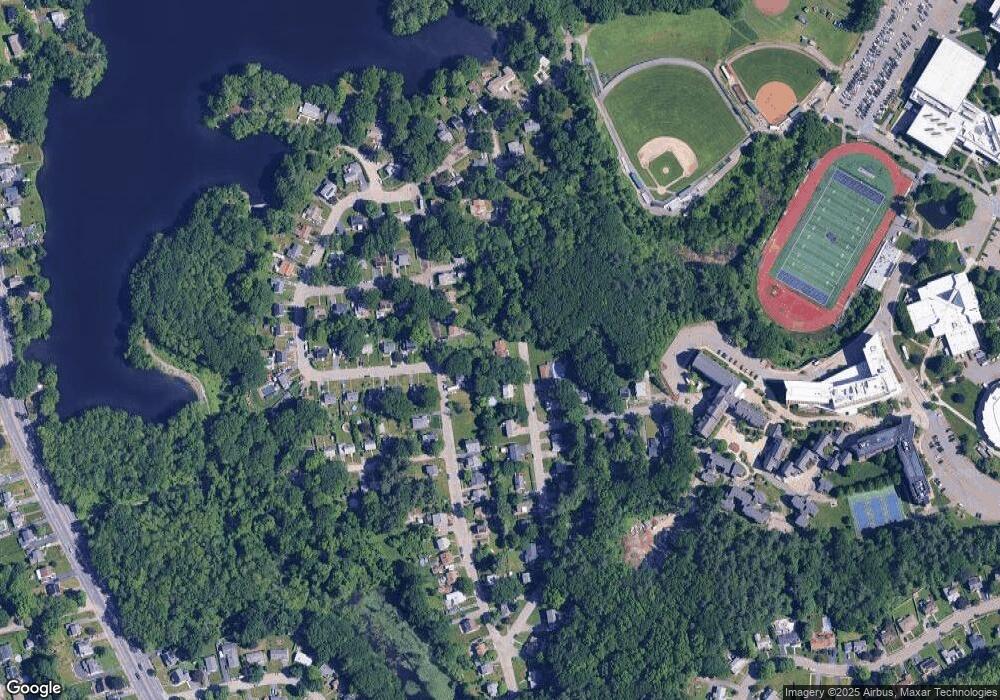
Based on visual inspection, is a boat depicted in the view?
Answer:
No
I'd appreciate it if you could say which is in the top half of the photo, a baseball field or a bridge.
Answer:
baseball field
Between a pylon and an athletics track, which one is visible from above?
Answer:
athletics track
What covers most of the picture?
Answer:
trees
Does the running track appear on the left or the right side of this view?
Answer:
right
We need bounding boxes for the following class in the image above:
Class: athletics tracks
[757,145,915,330]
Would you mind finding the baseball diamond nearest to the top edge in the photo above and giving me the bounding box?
[720,39,846,134]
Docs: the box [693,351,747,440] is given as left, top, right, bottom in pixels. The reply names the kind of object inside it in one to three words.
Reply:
building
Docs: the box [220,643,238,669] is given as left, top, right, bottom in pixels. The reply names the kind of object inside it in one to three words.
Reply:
house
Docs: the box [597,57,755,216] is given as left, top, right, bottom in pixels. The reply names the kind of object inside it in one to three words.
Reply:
baseball field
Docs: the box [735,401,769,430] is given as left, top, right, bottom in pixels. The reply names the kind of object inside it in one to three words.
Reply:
building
